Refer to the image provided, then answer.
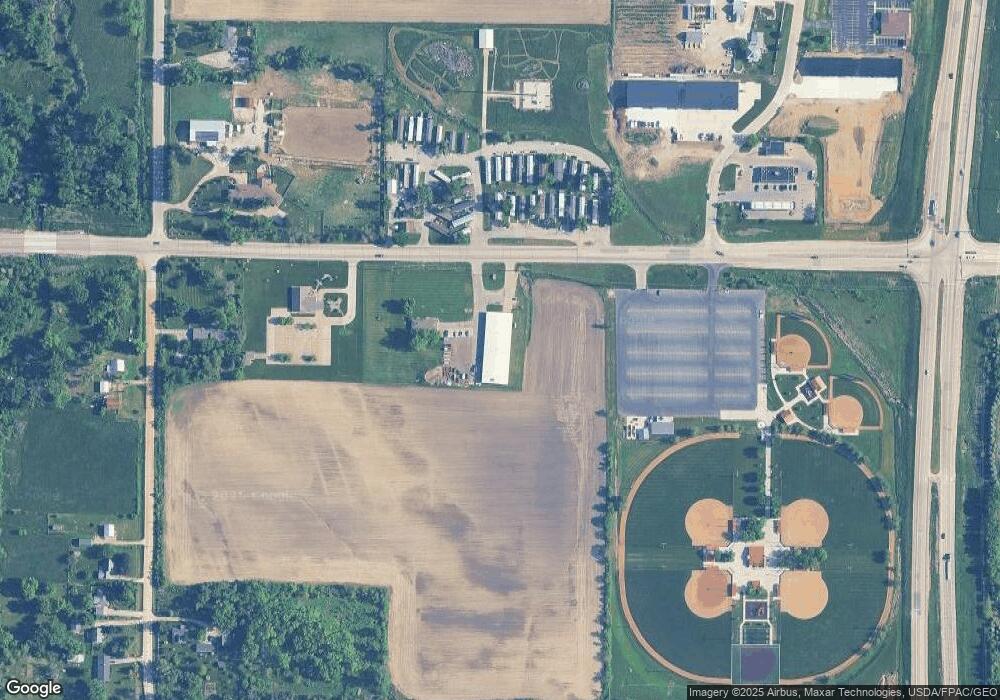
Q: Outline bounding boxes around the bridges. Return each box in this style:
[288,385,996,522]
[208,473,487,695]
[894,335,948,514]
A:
[22,230,58,255]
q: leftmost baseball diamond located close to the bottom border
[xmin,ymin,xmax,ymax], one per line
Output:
[618,557,733,683]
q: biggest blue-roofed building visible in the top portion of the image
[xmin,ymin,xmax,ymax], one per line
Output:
[627,80,739,109]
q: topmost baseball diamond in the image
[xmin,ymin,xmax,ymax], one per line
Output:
[774,314,831,370]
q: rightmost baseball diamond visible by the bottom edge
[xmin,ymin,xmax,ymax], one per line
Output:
[781,557,895,683]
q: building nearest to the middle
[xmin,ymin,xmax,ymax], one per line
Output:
[480,311,513,385]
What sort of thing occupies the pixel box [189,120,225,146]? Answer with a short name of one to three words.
barn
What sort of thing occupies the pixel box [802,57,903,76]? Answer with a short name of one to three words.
building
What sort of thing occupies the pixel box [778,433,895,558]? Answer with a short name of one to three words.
baseball field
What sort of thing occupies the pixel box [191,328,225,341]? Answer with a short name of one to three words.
house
